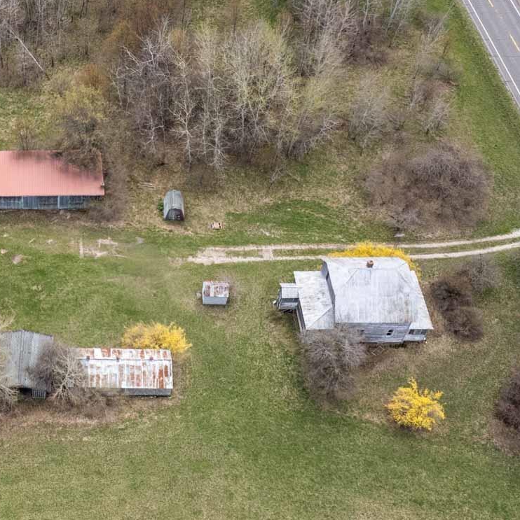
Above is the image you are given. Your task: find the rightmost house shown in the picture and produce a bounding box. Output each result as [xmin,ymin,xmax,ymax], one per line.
[271,257,434,343]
